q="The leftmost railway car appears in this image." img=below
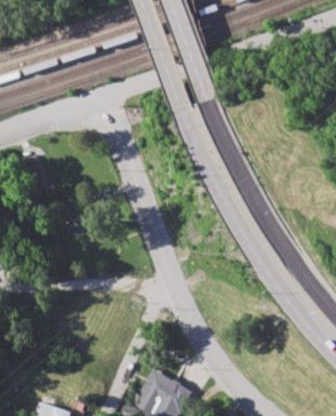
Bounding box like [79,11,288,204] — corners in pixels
[0,70,22,84]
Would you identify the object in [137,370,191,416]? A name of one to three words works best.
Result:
house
